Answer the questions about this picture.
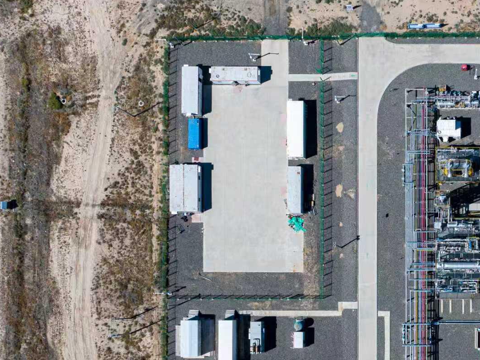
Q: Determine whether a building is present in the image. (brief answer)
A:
Yes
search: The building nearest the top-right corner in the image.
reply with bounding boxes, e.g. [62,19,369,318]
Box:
[437,117,462,144]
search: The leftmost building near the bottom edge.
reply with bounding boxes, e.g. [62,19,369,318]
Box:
[175,310,213,360]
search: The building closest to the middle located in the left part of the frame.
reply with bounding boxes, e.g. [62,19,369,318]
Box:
[170,165,202,214]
